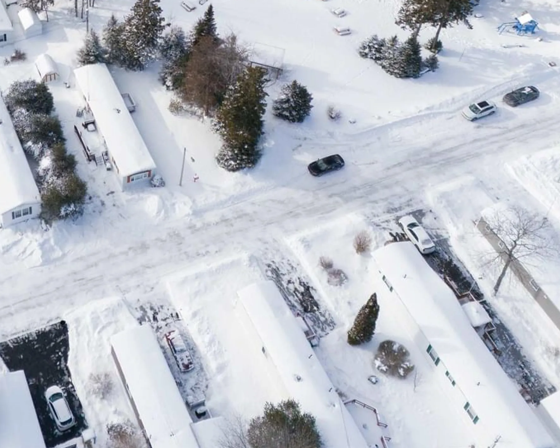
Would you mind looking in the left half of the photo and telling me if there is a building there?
Yes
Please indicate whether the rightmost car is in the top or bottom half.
top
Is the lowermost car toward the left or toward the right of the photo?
left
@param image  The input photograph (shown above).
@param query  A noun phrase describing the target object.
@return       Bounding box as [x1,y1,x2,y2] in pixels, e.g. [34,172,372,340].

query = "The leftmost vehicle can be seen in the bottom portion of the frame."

[46,383,76,436]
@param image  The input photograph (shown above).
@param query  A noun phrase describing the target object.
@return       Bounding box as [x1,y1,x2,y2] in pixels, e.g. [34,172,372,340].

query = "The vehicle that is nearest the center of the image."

[306,150,346,179]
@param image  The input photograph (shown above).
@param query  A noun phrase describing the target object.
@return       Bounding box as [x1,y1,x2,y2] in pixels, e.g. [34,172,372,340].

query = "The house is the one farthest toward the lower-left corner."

[0,372,49,448]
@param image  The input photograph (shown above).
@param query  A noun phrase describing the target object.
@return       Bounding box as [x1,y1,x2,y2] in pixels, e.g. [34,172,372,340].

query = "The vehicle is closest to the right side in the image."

[502,84,541,109]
